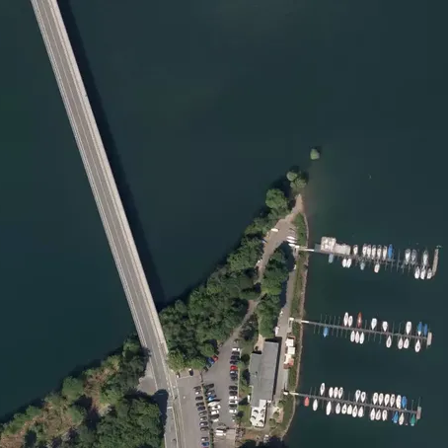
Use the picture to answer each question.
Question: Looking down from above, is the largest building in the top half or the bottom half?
bottom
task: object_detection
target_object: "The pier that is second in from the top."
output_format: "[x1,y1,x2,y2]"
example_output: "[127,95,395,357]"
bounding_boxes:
[293,313,433,346]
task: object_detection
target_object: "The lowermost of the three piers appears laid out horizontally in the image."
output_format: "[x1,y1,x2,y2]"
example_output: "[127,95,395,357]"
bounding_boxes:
[289,385,421,420]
